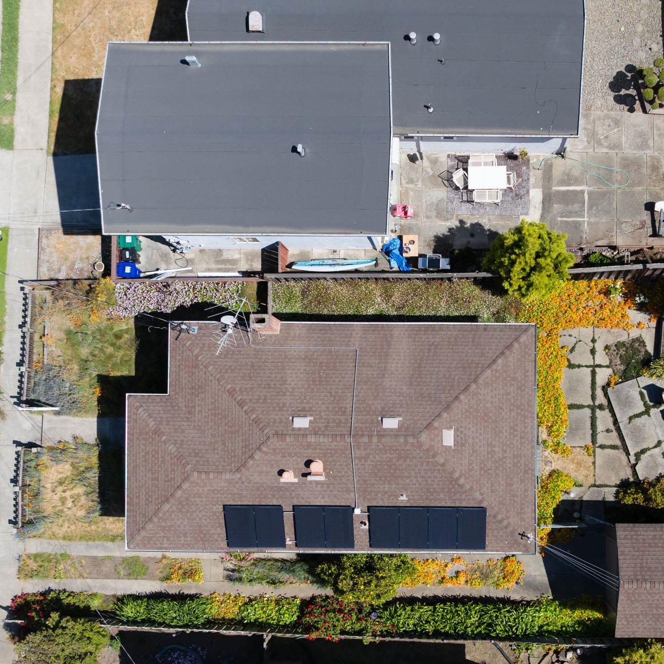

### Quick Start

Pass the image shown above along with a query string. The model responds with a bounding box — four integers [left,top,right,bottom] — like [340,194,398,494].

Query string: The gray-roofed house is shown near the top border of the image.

[91,0,589,251]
